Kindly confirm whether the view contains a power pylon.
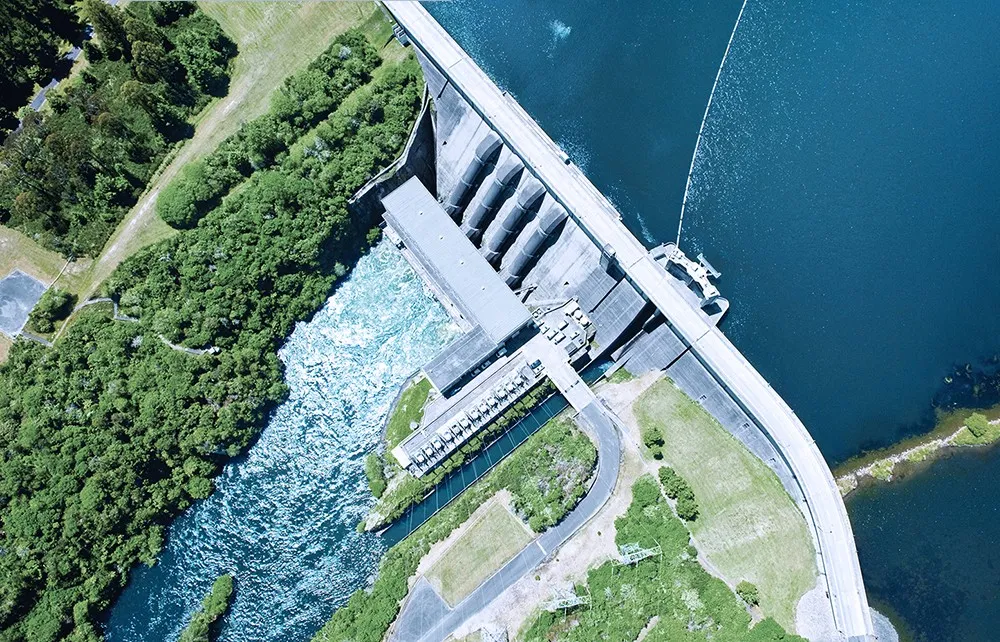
Yes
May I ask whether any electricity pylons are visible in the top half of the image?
No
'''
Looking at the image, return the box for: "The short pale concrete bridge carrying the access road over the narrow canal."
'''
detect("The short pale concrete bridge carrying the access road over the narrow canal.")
[548,358,599,413]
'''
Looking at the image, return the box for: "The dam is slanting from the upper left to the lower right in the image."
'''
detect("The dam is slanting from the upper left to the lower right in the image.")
[379,0,877,642]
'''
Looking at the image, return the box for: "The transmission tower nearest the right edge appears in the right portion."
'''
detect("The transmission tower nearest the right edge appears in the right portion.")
[610,533,662,565]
